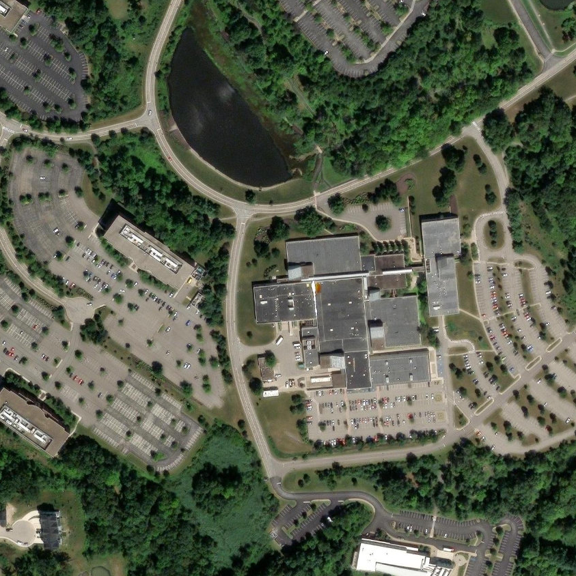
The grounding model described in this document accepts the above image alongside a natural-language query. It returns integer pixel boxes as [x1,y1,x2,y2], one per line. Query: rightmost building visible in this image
[421,217,460,316]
